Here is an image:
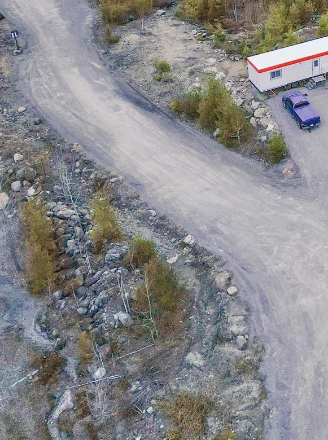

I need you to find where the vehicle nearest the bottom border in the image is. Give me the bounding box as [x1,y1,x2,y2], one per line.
[285,91,320,130]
